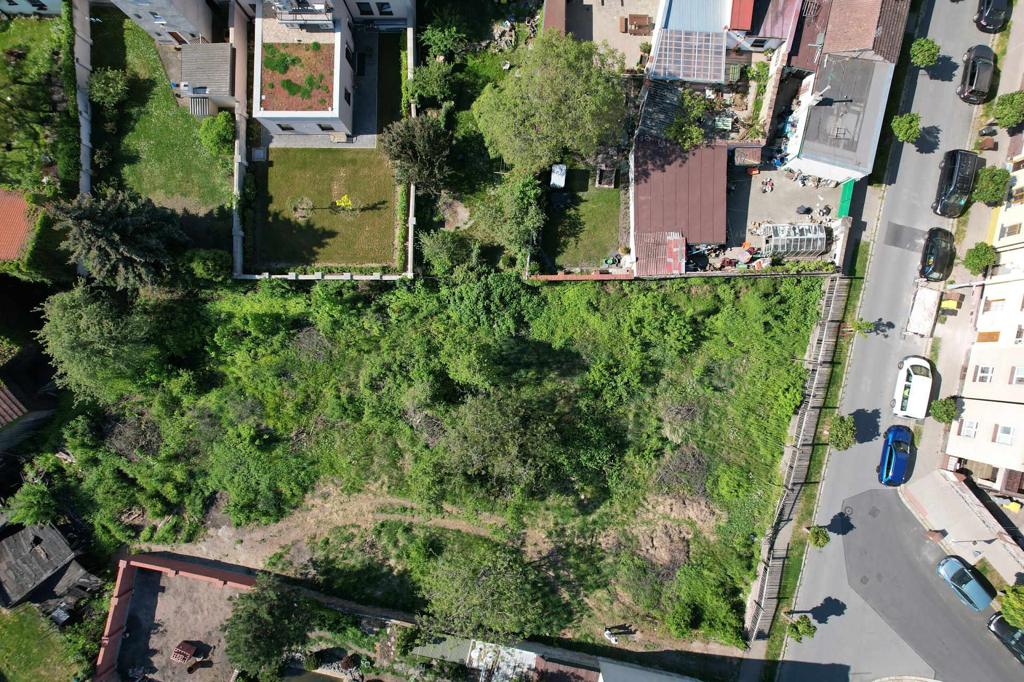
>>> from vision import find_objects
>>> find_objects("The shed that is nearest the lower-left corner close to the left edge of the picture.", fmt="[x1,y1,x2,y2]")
[0,516,104,609]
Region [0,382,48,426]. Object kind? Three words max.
shed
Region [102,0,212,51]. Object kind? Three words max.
house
